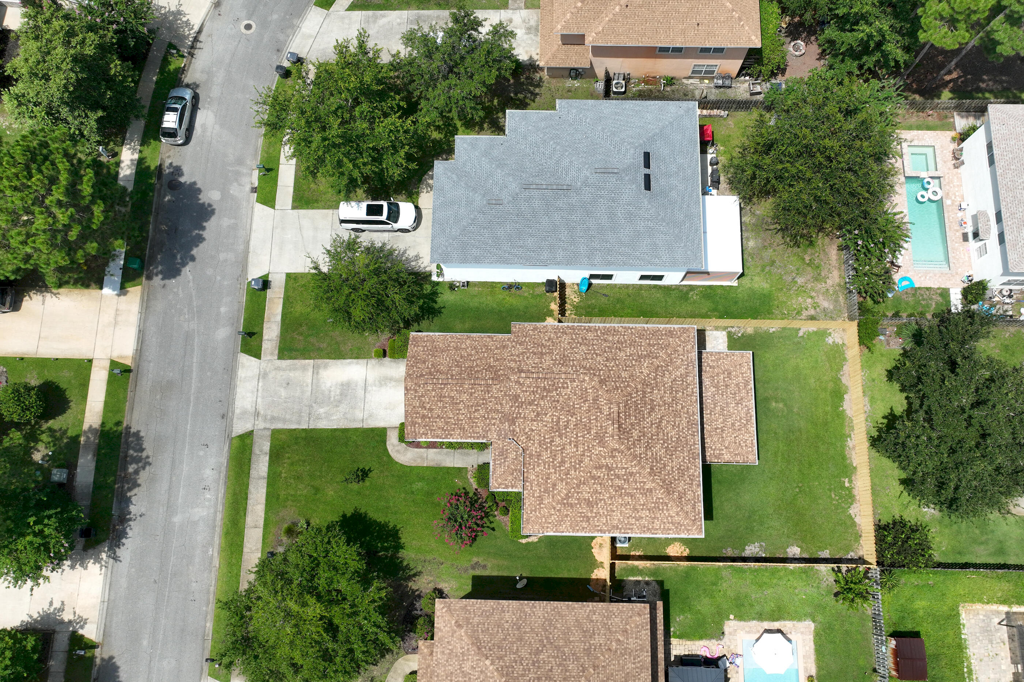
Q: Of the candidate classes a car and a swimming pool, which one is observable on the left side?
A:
car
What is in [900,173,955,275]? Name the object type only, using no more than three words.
swimming pool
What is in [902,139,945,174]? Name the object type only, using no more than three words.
swimming pool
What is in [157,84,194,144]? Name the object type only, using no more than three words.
car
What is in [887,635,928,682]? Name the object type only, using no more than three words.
shed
